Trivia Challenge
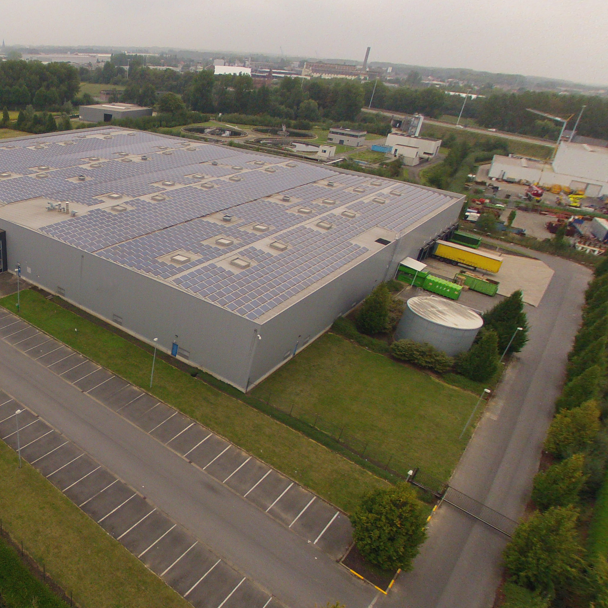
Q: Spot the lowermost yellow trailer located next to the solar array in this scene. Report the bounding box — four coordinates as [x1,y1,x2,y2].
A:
[427,240,503,275]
